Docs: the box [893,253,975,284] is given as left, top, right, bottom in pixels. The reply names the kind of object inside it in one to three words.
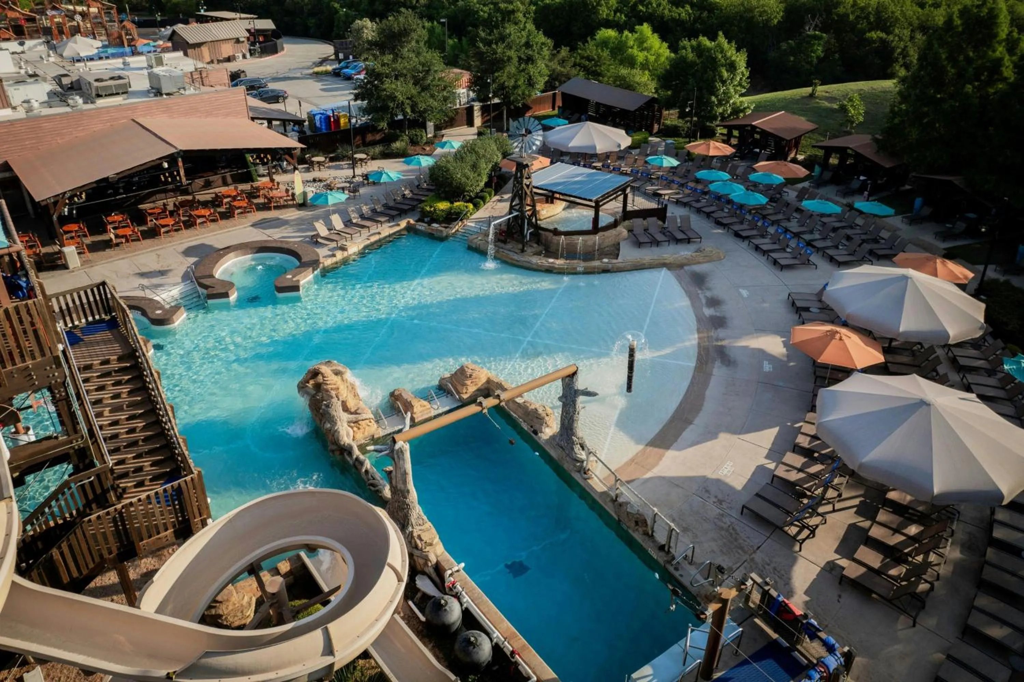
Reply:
umbrella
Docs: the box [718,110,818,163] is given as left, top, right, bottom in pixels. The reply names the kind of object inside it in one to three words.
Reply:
gazebo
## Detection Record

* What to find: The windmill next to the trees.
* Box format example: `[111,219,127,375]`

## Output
[507,115,547,249]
